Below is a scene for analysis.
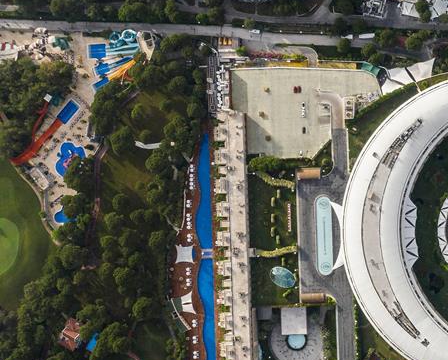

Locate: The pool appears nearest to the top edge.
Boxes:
[88,43,107,60]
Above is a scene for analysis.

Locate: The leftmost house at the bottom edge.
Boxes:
[59,318,83,352]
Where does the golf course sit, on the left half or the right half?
left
